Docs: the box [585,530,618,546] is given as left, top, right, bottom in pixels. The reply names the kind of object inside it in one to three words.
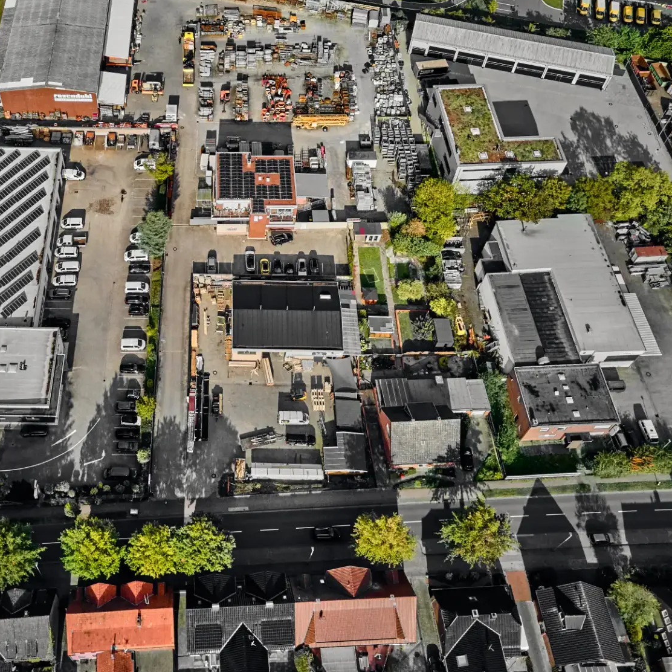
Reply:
car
